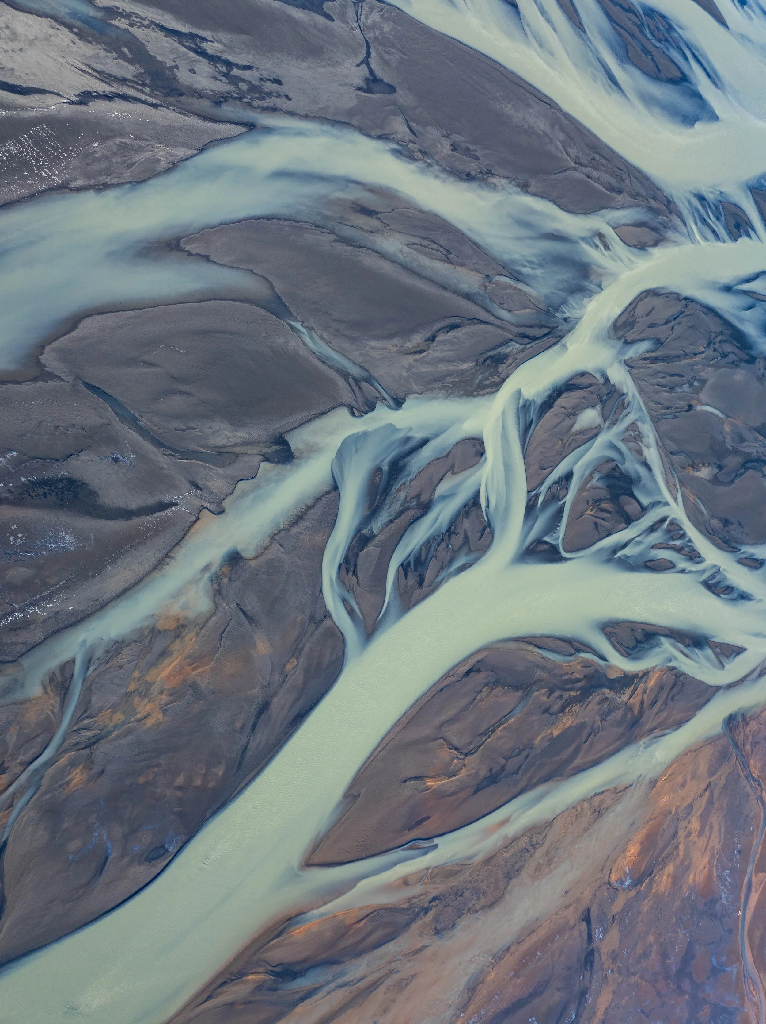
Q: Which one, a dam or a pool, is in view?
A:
pool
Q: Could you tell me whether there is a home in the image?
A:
No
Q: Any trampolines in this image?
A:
No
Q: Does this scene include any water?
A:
Yes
